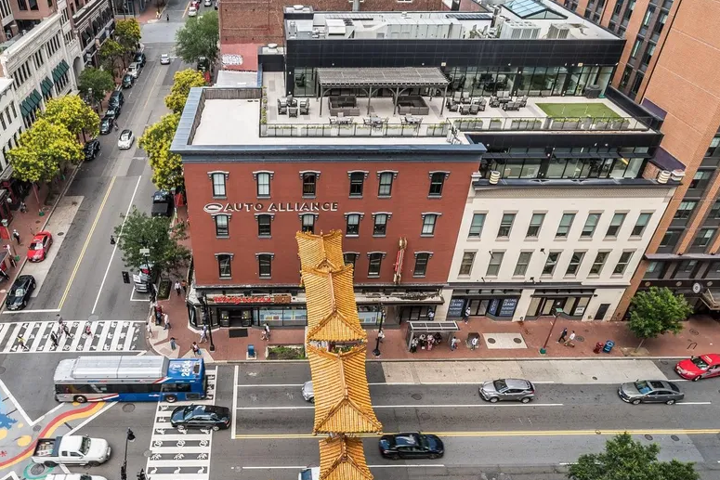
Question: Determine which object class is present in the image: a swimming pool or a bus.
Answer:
bus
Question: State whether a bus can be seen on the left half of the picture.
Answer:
Yes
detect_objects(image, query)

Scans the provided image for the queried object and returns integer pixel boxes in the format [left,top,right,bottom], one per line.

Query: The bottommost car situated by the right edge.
[618,377,686,404]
